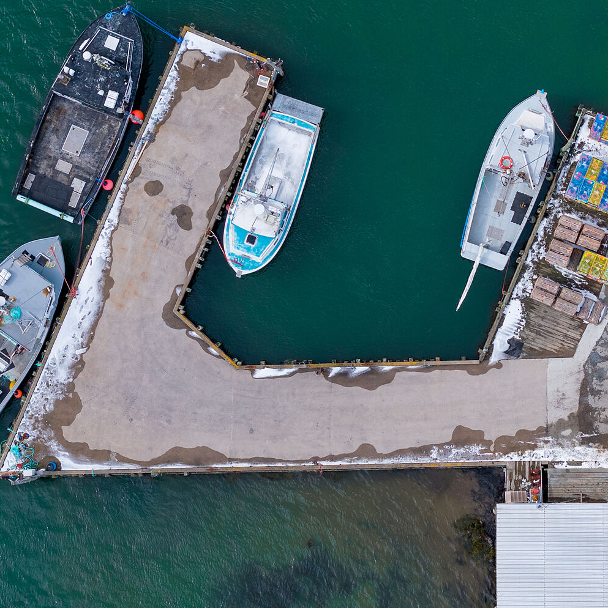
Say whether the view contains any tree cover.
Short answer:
No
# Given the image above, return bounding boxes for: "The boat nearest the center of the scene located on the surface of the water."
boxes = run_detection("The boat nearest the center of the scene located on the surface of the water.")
[223,93,325,278]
